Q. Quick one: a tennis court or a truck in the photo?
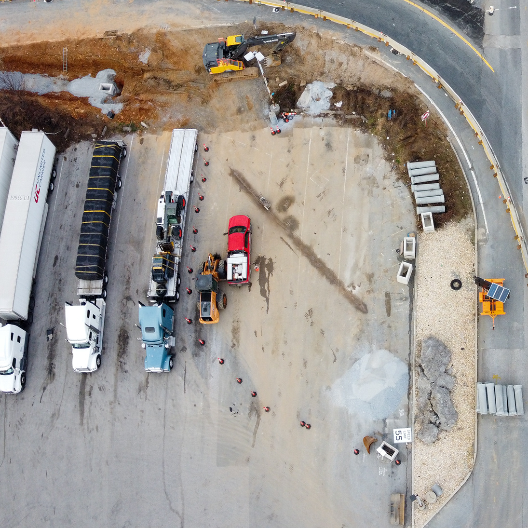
truck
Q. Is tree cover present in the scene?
No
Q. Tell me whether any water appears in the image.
No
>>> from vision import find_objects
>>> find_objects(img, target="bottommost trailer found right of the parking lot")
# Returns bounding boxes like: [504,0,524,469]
[469,263,515,332]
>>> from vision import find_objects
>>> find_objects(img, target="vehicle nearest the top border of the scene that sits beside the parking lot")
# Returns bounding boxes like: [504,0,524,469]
[191,37,287,92]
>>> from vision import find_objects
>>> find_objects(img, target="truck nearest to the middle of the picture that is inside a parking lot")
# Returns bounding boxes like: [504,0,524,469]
[223,216,253,289]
